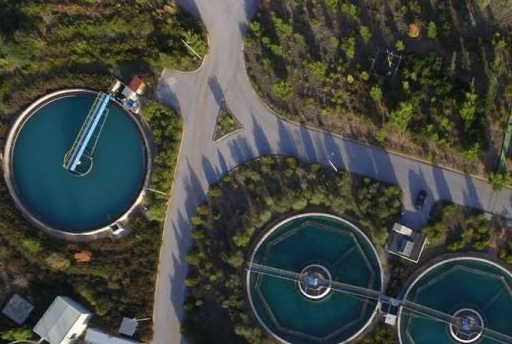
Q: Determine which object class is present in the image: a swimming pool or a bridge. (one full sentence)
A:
There is a bridge in the scene.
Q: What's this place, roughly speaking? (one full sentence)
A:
This image shows an industrial area.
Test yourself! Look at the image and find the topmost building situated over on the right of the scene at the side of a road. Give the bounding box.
[385,223,427,263]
